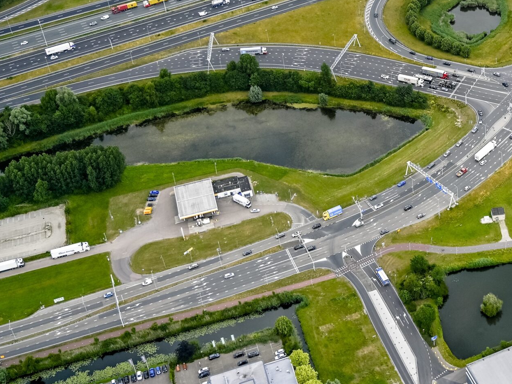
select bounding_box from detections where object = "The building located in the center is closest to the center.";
[211,176,253,201]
